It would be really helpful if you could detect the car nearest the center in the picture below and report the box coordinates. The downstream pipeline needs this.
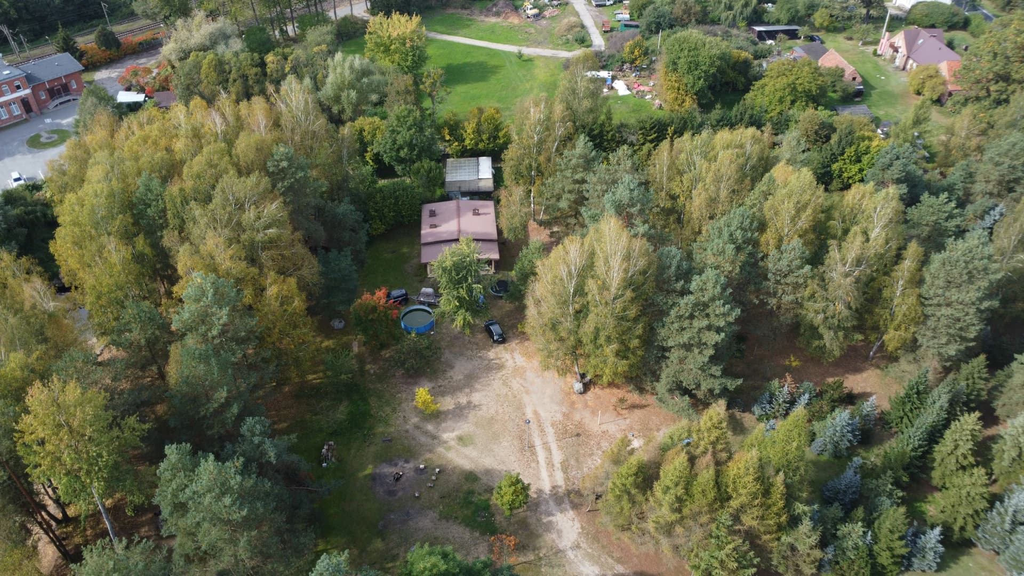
[483,316,507,340]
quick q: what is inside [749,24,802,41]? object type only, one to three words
shed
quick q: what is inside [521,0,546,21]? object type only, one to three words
work vehicle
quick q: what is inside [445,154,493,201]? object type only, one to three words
shed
